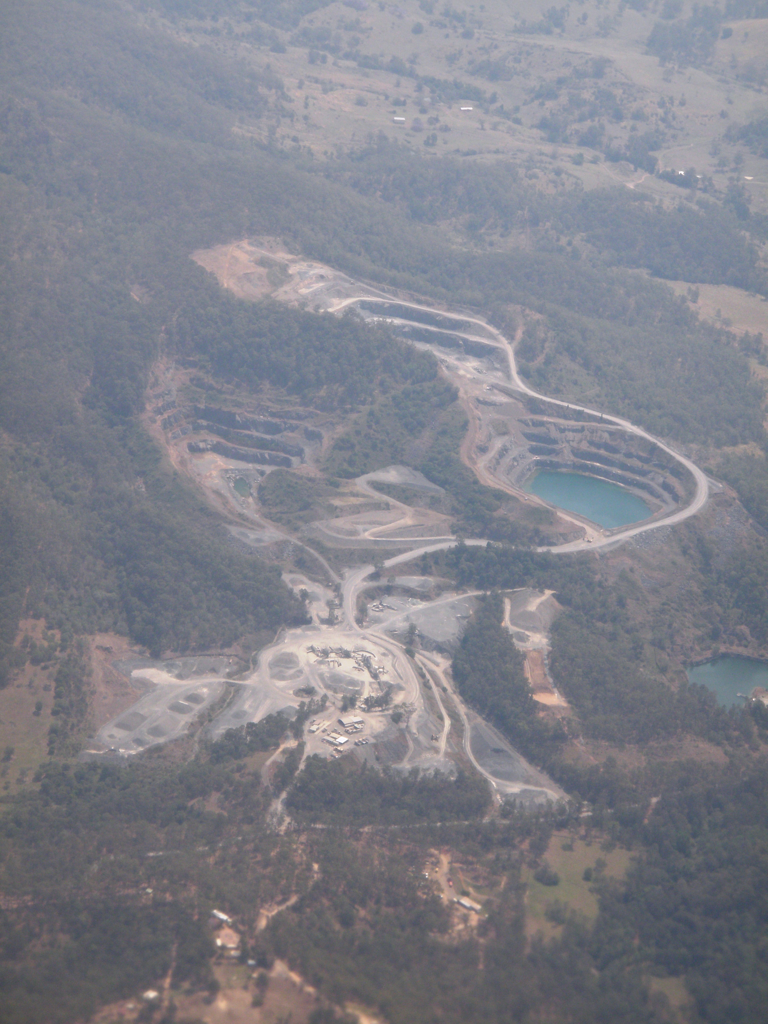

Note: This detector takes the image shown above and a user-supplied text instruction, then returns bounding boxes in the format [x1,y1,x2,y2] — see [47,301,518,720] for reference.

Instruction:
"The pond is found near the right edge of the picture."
[683,653,768,717]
